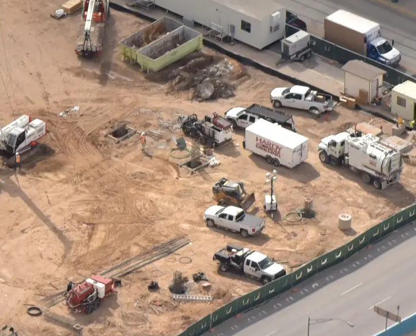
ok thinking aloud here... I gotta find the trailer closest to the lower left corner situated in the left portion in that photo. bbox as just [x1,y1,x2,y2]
[67,269,120,307]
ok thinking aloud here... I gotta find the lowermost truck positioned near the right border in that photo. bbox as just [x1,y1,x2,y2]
[314,132,408,190]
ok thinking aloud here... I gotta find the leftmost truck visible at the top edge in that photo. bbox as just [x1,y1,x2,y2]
[76,0,108,48]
